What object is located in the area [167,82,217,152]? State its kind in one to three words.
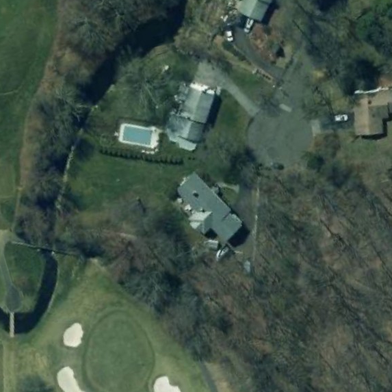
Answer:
house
